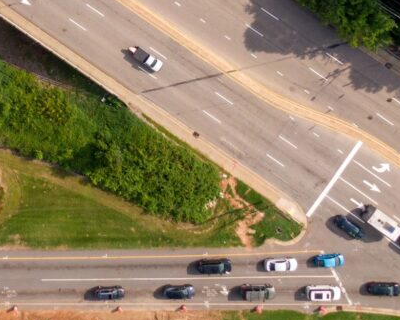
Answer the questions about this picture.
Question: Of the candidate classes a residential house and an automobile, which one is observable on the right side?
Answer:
automobile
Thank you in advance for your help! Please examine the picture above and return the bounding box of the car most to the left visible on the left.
[93,285,122,301]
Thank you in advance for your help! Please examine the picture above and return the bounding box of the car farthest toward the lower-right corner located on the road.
[367,281,400,298]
